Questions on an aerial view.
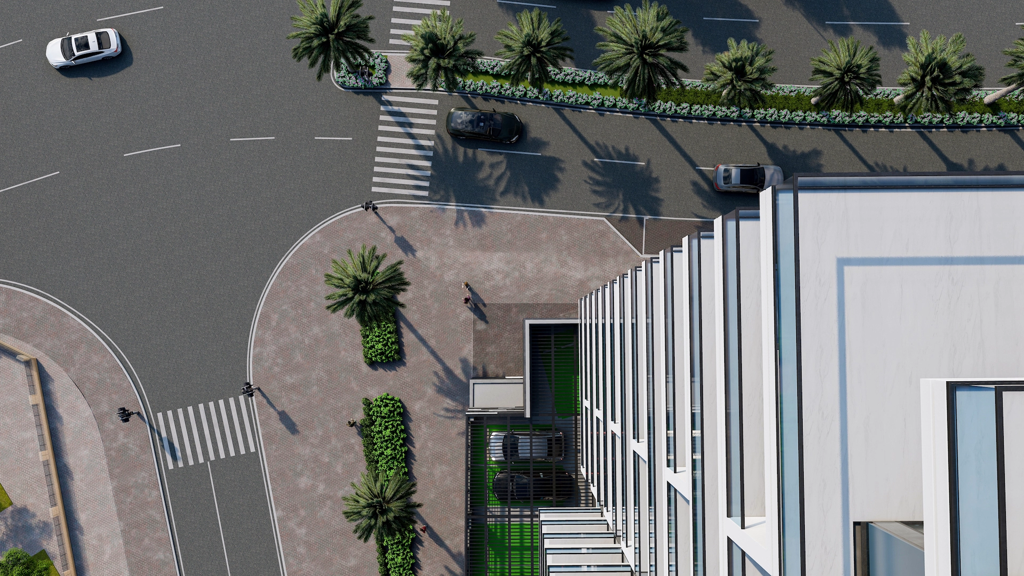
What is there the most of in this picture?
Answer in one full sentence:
For the most part, this view shows paved ground.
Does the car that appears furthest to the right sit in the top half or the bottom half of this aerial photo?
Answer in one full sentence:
The car that appears furthest to the right sits in the top half of the picture.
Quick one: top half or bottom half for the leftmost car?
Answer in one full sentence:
You can find the leftmost car in the top half.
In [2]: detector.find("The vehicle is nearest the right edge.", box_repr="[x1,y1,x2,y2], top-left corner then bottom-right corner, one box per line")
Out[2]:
[712,160,783,193]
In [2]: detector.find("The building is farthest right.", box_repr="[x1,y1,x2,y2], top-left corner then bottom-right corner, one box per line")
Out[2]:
[538,169,1024,576]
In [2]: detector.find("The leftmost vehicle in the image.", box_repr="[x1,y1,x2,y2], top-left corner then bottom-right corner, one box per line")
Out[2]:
[47,30,124,70]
